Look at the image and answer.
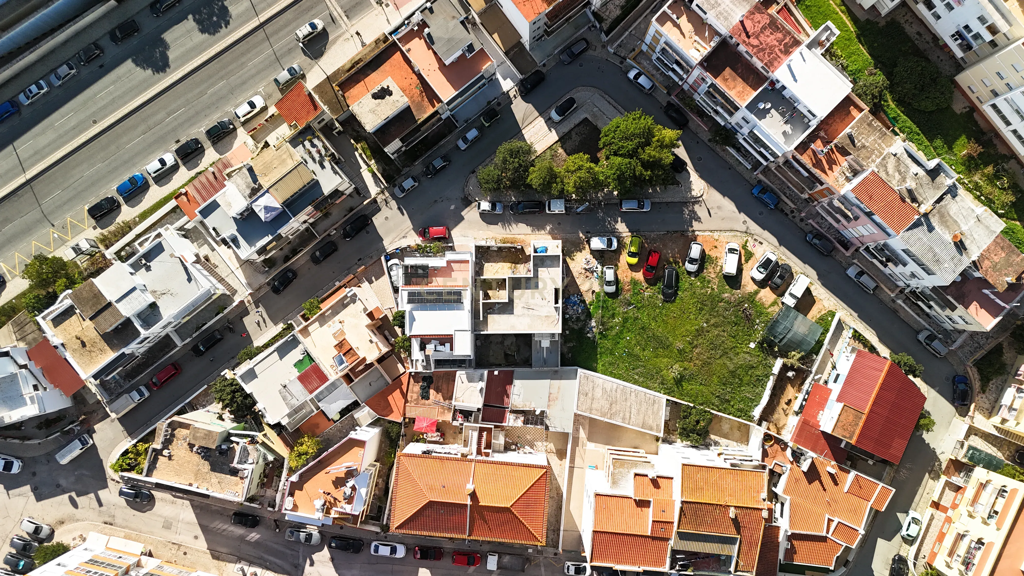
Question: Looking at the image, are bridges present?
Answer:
No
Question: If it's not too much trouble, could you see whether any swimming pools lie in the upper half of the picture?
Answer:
No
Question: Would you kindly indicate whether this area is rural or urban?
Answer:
urban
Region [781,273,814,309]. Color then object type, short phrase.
white van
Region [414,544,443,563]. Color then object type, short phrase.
black car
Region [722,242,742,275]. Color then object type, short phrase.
white vehicle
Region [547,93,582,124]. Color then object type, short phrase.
black car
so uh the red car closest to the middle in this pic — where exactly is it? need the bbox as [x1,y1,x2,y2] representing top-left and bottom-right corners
[416,224,451,242]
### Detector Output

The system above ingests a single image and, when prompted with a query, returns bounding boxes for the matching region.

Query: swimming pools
[962,444,1005,474]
